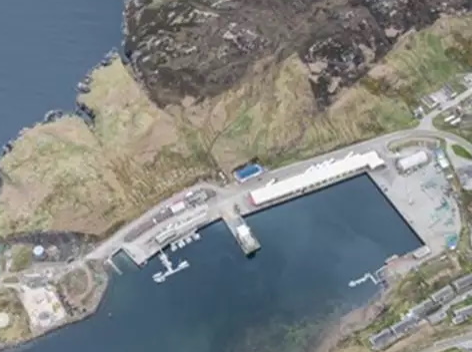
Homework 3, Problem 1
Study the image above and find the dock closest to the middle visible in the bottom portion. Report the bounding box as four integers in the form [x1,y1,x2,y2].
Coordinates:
[220,213,261,257]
